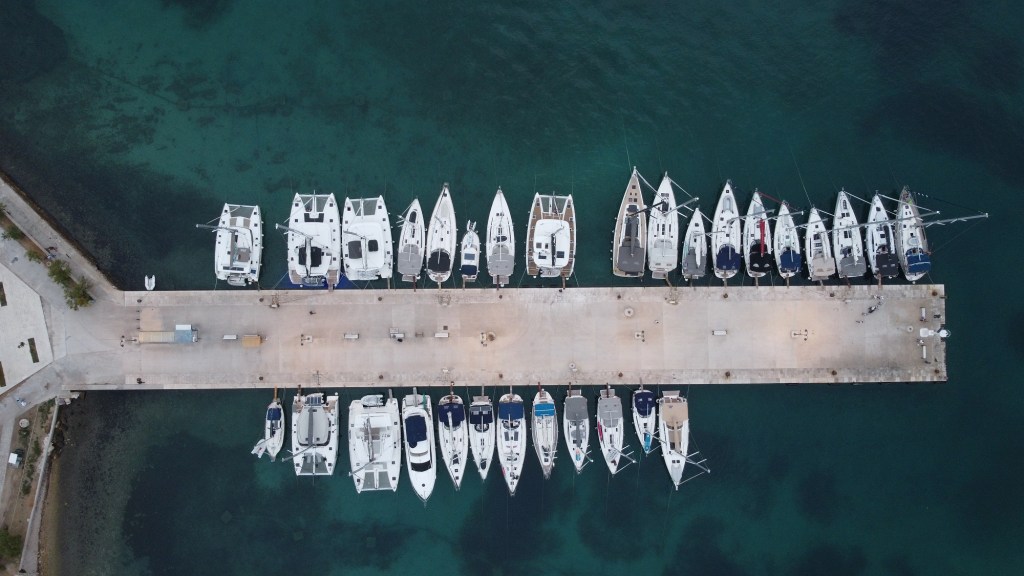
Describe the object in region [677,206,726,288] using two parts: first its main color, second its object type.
white boat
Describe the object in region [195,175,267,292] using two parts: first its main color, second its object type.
white boat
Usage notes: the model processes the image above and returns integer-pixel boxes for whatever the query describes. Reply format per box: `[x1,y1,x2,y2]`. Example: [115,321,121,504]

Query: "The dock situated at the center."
[123,284,946,389]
